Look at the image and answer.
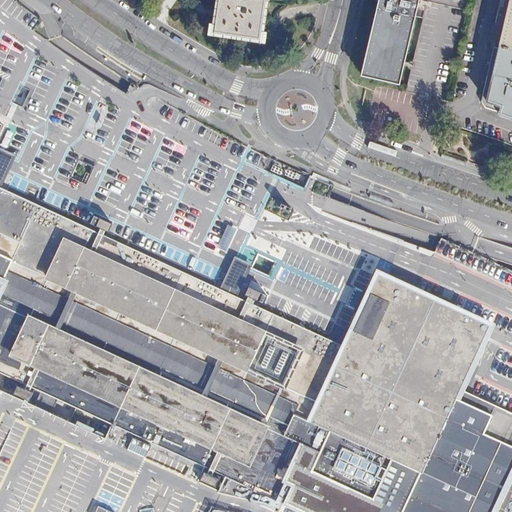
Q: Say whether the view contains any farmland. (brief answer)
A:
No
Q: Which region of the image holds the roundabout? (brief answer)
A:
top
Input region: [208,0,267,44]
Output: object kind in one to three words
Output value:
building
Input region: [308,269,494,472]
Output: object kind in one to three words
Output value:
building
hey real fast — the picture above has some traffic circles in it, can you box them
[258,70,336,150]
